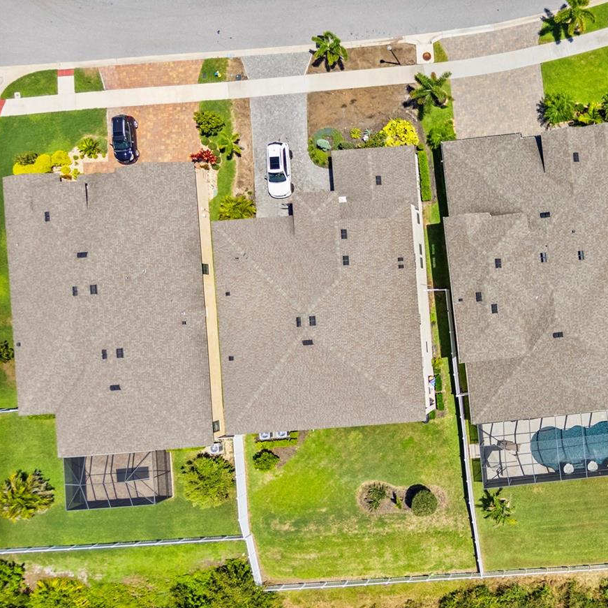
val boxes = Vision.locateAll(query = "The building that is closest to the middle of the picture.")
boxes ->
[211,145,437,438]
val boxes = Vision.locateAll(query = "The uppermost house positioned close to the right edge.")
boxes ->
[441,127,608,425]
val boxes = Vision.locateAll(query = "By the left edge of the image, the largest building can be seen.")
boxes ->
[2,163,227,458]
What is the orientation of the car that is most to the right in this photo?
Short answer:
vertically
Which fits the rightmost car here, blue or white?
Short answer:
white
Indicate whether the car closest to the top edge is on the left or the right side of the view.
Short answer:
left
